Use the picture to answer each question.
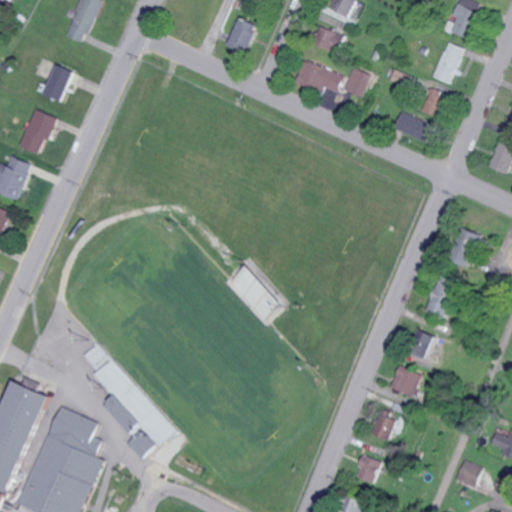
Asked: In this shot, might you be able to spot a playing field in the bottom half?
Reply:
Yes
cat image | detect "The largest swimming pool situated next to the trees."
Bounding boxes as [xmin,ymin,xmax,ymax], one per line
[393,416,406,436]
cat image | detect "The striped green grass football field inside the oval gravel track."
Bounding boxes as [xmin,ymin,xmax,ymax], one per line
[62,210,326,486]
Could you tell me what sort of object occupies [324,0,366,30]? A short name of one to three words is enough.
house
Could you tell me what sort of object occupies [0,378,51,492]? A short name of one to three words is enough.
building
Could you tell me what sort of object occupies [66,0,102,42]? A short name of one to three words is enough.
house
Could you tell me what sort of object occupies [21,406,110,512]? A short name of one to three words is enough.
building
